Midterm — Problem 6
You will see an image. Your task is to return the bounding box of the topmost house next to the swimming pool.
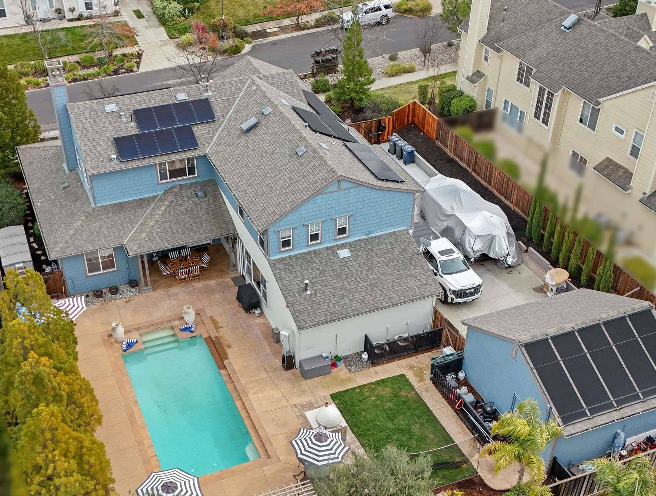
[17,52,446,368]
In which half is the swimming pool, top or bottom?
bottom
